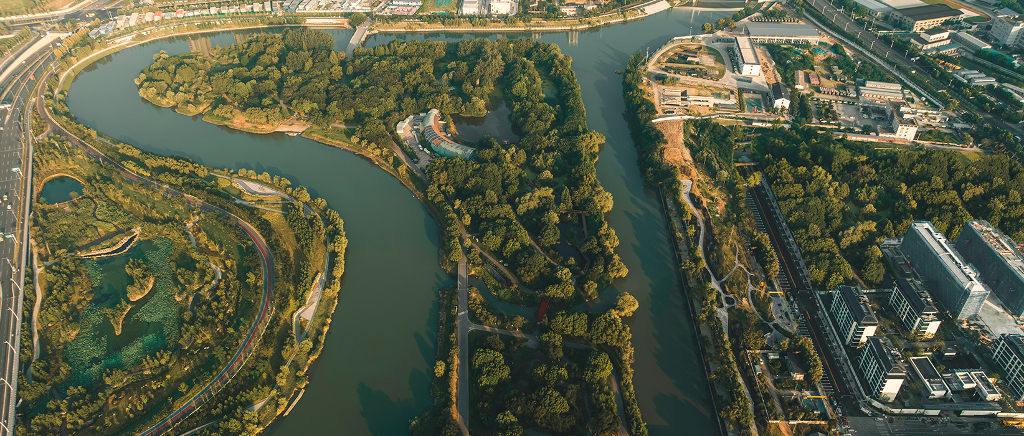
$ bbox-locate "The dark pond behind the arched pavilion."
[455,90,520,142]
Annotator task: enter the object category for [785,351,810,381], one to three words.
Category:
house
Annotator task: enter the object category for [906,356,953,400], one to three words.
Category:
building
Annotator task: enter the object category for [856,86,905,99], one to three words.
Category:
shed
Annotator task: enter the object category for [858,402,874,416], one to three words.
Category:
vehicle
